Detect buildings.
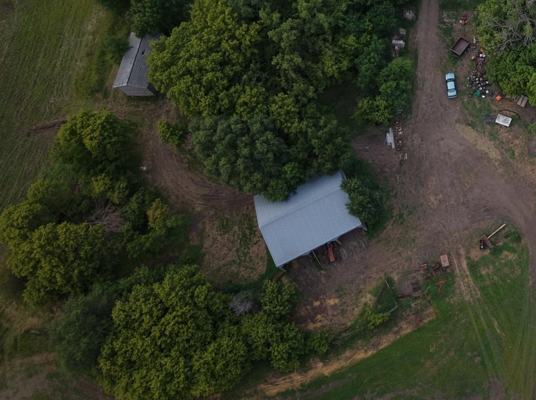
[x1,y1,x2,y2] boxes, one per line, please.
[254,158,368,270]
[115,27,168,95]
